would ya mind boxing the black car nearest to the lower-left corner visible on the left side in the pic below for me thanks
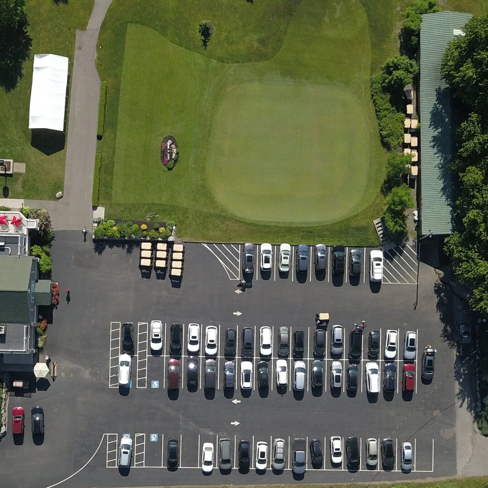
[30,405,45,434]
